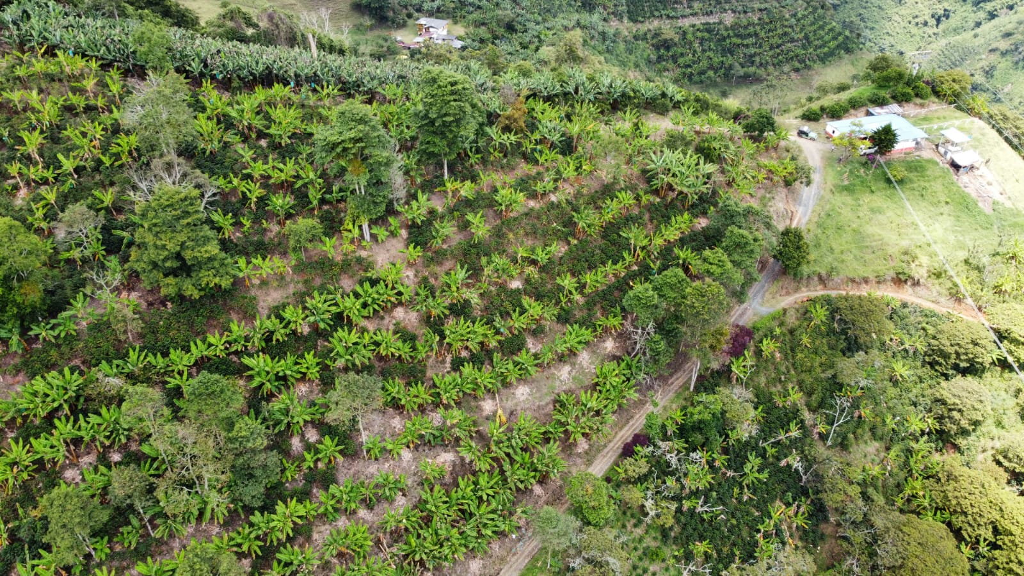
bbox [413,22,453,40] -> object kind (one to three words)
house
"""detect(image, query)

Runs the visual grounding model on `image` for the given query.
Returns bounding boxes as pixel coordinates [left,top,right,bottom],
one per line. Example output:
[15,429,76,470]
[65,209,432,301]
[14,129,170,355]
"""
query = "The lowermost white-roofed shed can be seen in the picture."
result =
[945,149,989,180]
